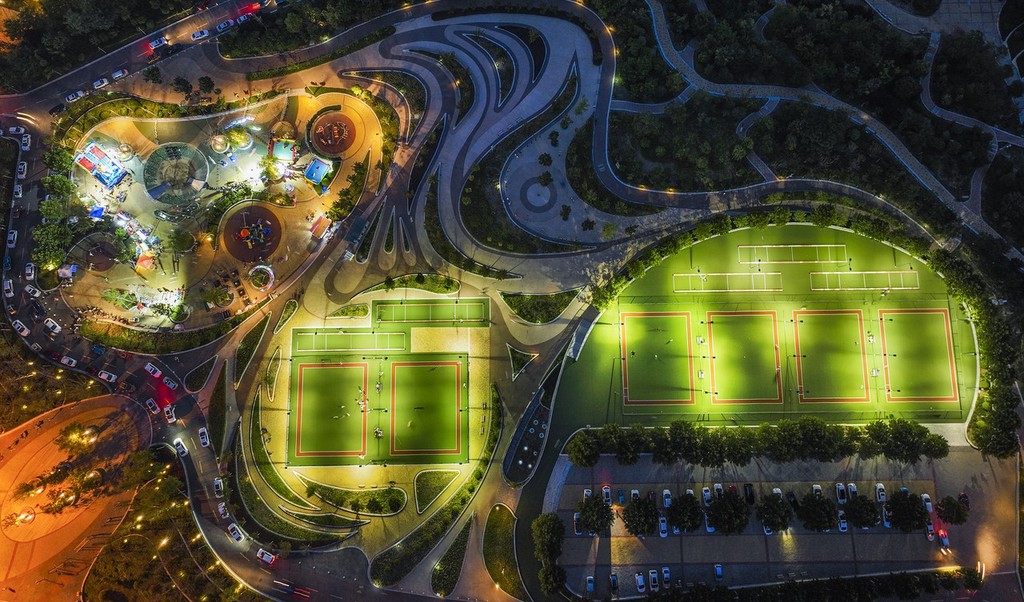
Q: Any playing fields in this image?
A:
Yes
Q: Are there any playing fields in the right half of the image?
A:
Yes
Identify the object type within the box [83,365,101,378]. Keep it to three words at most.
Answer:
vehicle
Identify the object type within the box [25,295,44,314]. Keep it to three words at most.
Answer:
vehicle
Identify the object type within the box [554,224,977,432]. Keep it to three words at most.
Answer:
sports field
